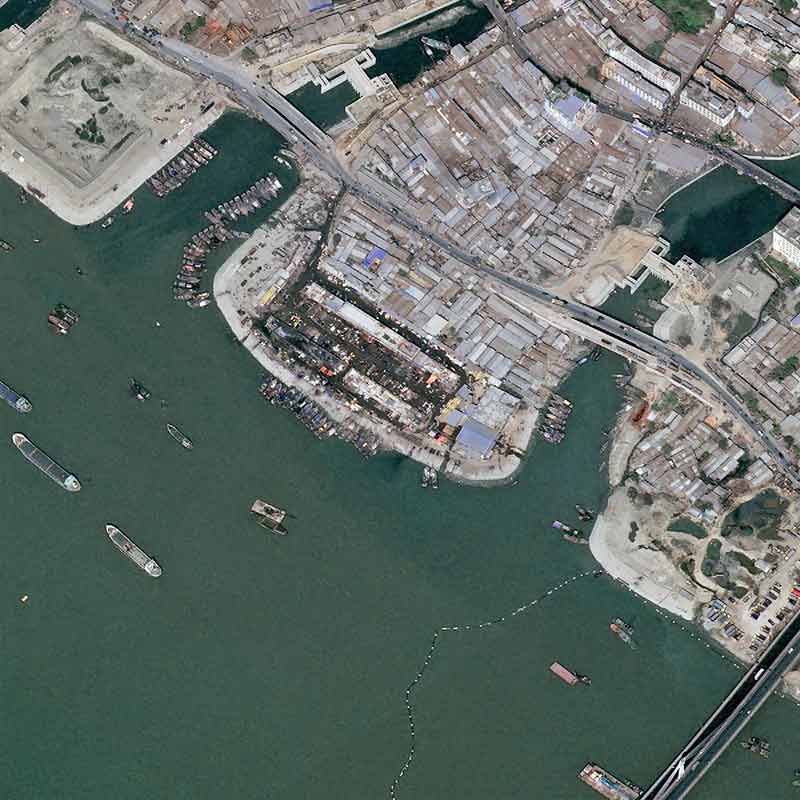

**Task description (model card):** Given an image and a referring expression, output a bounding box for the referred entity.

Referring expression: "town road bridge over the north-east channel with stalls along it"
[720,148,800,205]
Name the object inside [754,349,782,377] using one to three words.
shed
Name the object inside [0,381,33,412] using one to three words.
ship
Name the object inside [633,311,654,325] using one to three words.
boat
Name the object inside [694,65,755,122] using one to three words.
building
